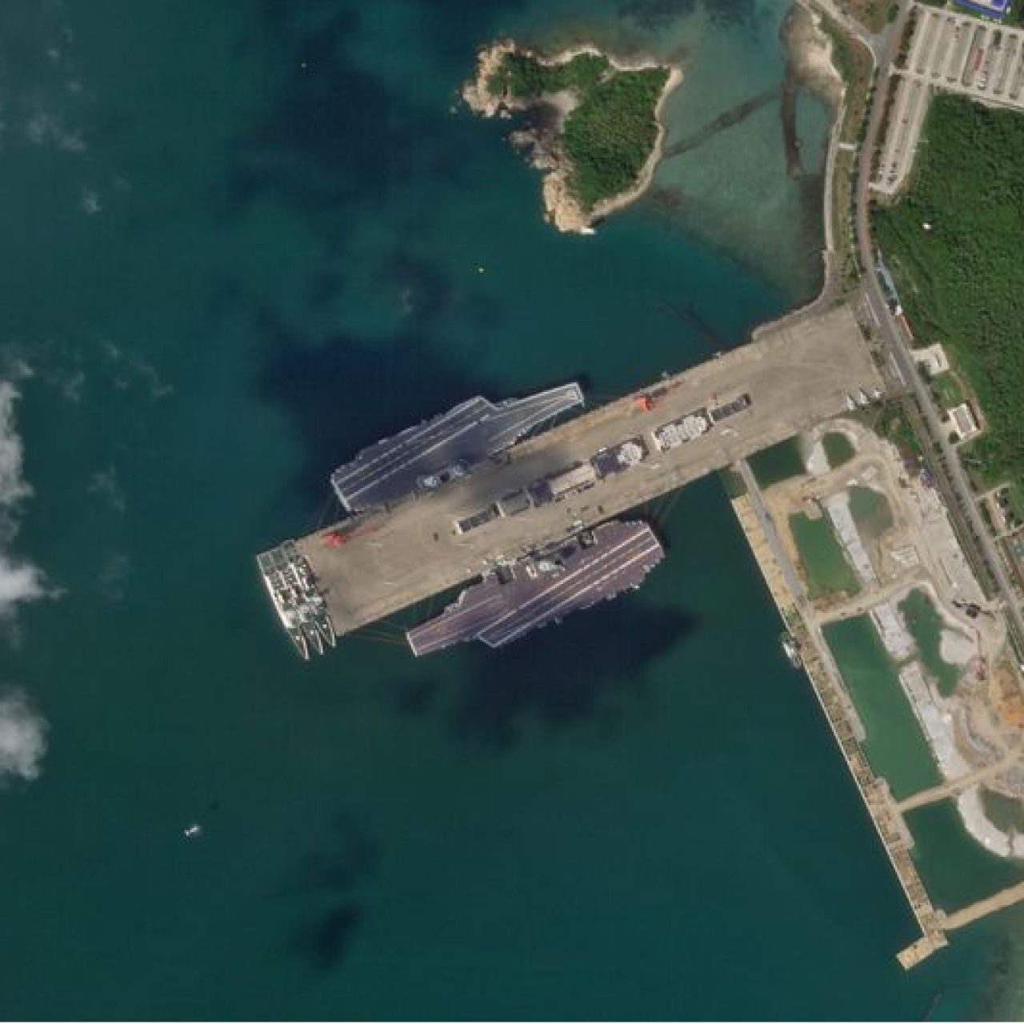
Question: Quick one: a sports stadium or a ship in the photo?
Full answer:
It is a ship that can be seen here.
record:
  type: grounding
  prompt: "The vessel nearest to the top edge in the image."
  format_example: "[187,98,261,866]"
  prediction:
[330,382,585,514]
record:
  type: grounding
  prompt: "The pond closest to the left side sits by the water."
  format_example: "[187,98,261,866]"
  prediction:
[746,435,806,490]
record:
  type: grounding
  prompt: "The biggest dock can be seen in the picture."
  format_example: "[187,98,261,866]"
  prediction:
[293,302,884,639]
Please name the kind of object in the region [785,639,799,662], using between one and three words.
boat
